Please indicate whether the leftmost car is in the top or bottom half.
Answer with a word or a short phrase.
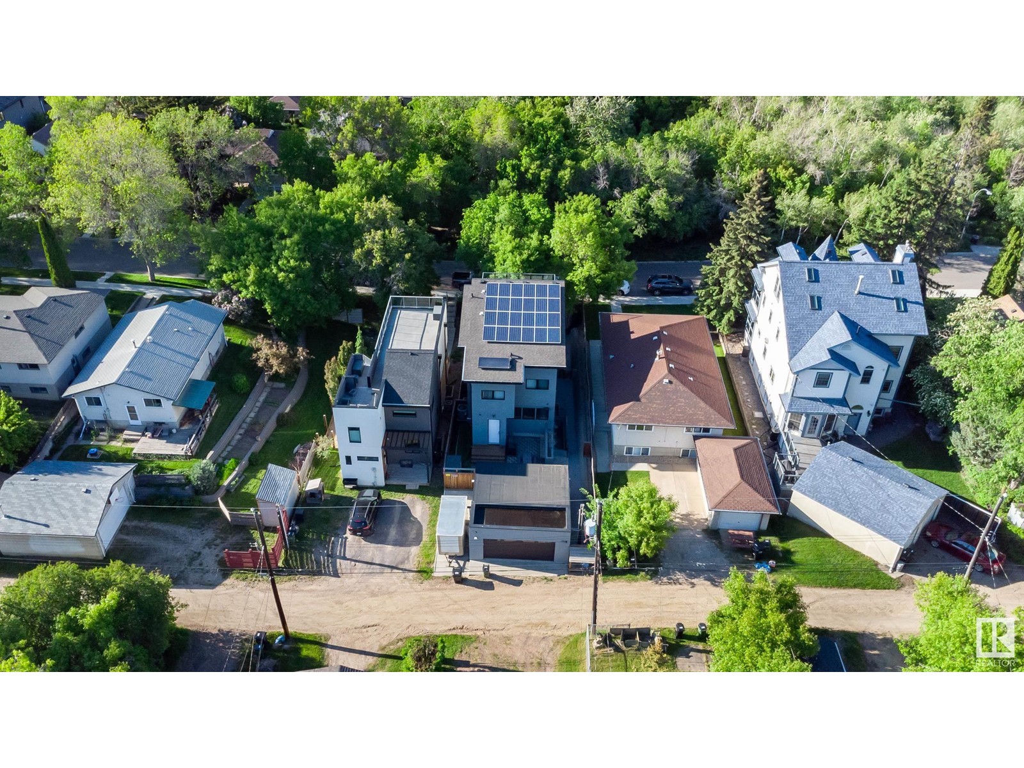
bottom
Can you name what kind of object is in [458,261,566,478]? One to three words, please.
house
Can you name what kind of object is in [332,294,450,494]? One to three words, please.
house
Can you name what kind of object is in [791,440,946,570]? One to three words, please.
building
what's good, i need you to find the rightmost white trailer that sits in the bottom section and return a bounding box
[436,495,468,572]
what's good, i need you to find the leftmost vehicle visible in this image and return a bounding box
[348,481,386,532]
